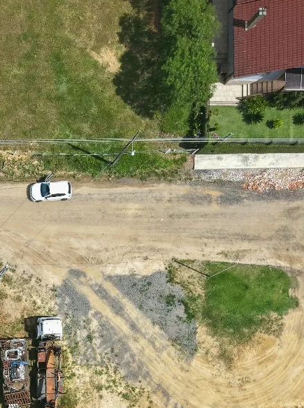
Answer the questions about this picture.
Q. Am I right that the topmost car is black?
No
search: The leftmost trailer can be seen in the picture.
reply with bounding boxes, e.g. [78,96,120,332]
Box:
[3,336,34,406]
